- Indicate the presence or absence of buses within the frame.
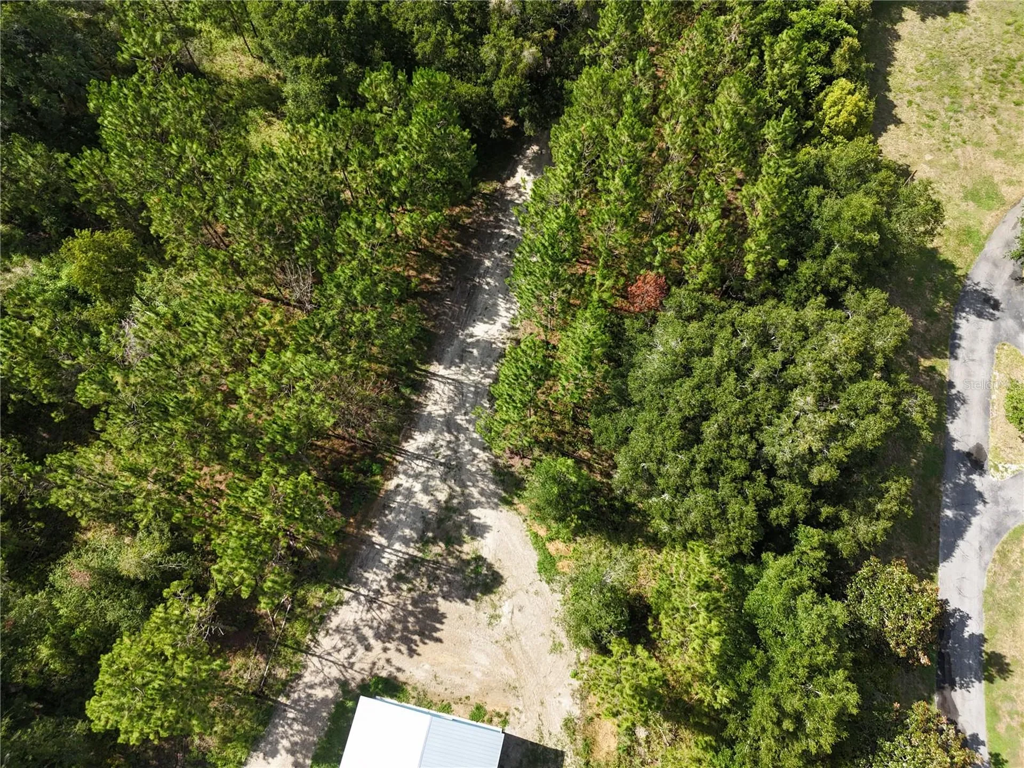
No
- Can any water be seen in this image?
No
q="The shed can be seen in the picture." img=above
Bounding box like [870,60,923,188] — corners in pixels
[338,688,505,768]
